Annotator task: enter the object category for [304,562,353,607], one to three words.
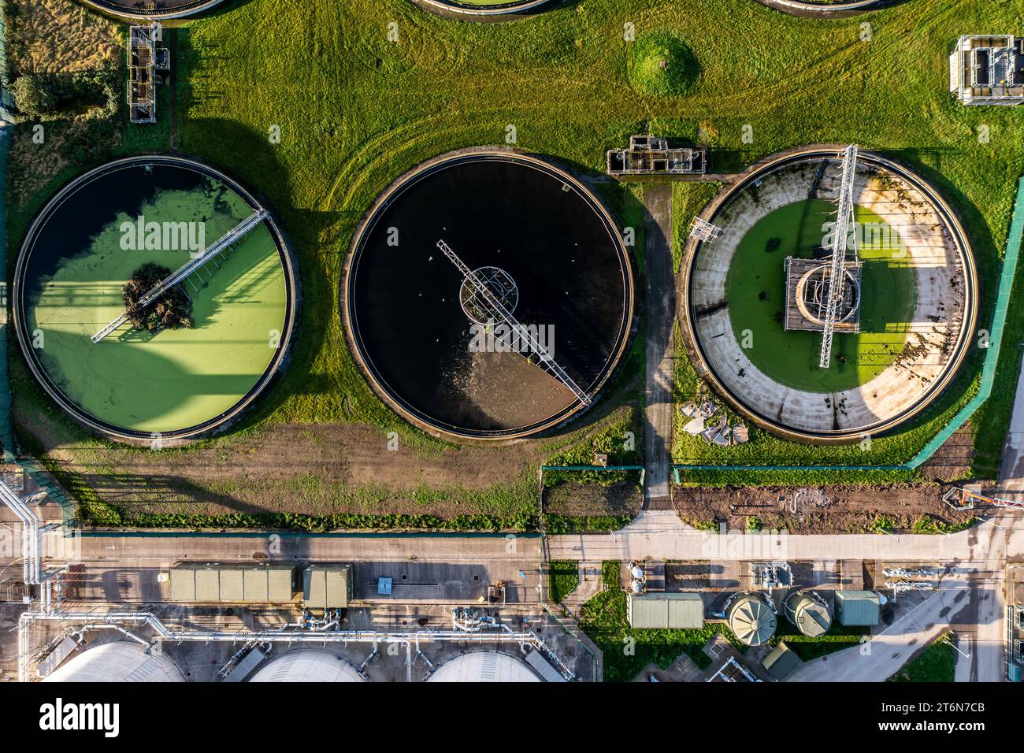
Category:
building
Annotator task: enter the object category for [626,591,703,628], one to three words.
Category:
building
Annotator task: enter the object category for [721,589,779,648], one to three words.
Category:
storage tank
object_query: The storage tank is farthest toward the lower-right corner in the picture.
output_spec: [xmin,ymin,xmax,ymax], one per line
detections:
[781,587,831,636]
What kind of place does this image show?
industrial area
